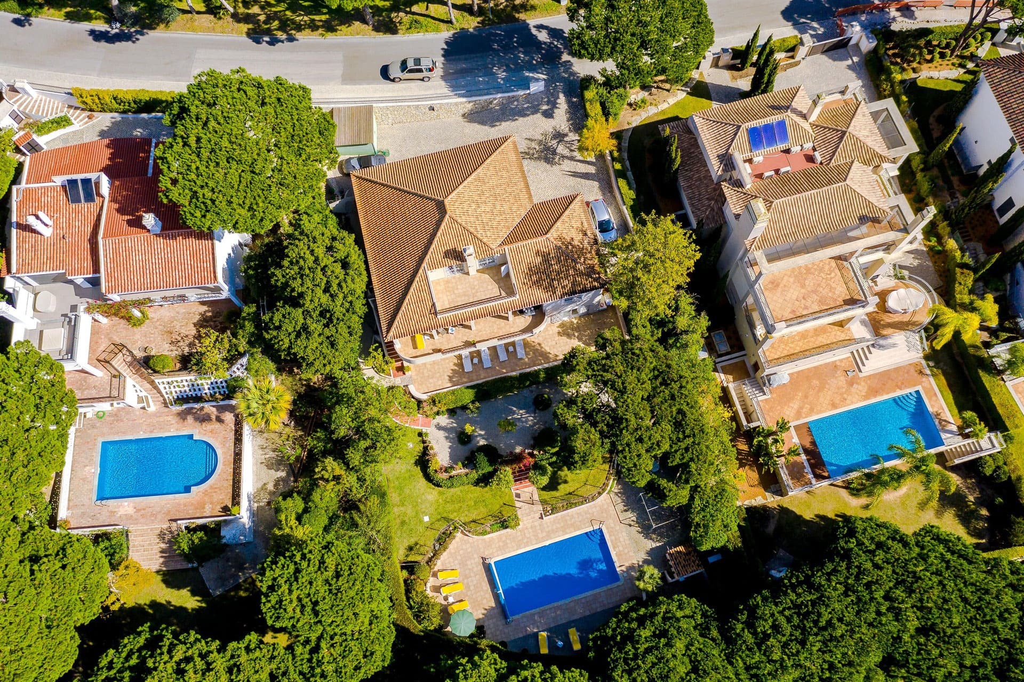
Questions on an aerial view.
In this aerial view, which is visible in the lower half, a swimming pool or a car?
swimming pool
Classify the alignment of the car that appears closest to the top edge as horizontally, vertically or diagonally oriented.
horizontally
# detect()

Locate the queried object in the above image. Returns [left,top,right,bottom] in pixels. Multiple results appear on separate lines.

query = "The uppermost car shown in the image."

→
[387,57,437,82]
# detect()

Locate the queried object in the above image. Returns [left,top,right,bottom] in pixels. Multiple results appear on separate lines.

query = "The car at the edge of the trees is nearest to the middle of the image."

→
[585,200,616,245]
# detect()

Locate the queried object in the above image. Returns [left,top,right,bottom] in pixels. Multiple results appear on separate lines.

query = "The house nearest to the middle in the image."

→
[351,134,607,368]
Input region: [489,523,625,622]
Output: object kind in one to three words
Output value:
swimming pool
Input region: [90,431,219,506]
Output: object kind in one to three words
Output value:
swimming pool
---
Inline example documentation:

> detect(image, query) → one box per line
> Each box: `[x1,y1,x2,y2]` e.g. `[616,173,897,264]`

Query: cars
[339,150,387,178]
[585,200,616,245]
[387,57,437,82]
